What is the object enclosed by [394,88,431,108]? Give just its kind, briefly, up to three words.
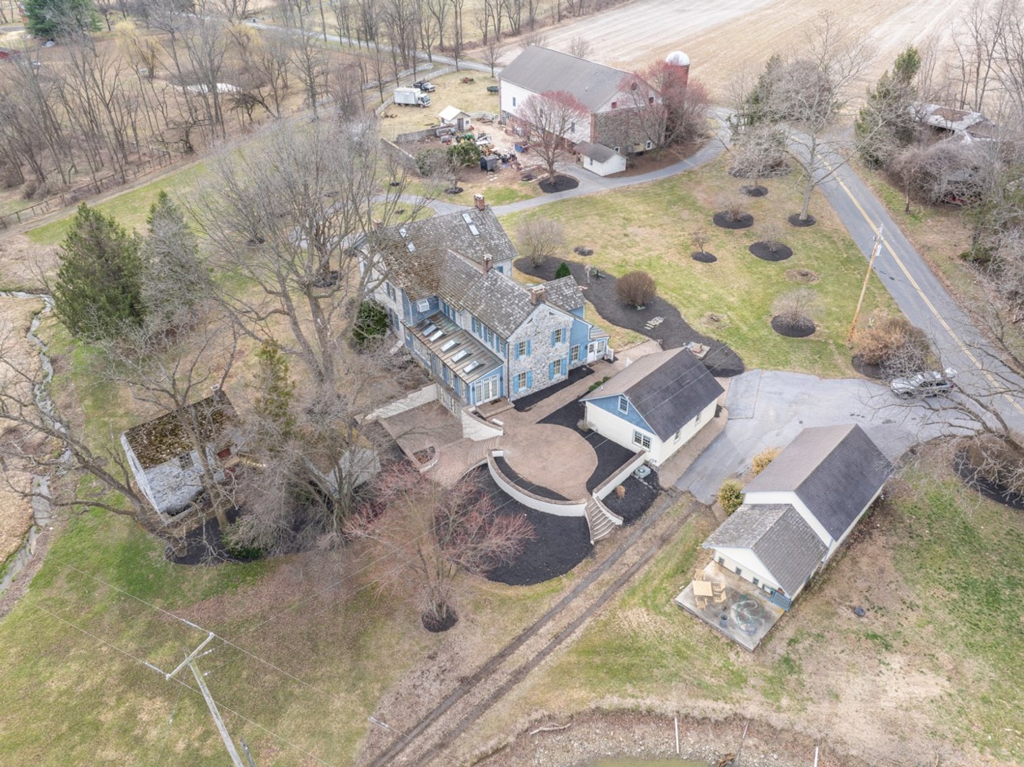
vehicle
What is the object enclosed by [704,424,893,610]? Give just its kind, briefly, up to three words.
shed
